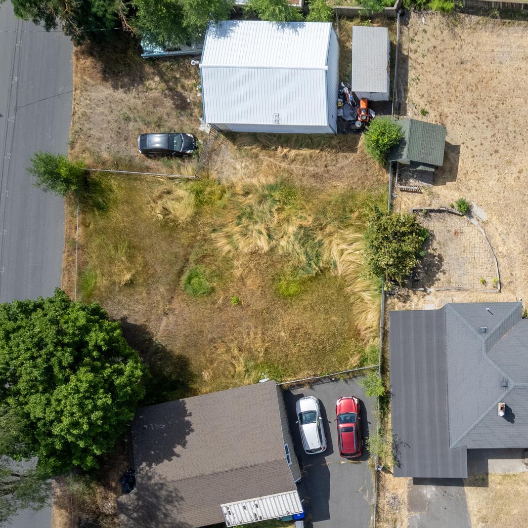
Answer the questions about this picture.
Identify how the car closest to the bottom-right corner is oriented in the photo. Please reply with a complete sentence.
The car closest to the bottom-right corner is oriented from top to bottom.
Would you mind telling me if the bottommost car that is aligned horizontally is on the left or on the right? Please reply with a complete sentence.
It is on the left.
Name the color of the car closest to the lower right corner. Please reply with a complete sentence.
In this view, the car closest to the lower right corner is red.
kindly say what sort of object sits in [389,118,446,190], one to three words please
shed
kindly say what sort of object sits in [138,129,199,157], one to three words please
car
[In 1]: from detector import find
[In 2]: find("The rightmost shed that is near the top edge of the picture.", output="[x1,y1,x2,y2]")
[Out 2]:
[351,25,390,101]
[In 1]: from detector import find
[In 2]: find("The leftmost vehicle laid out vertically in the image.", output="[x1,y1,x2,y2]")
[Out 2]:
[296,395,329,455]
